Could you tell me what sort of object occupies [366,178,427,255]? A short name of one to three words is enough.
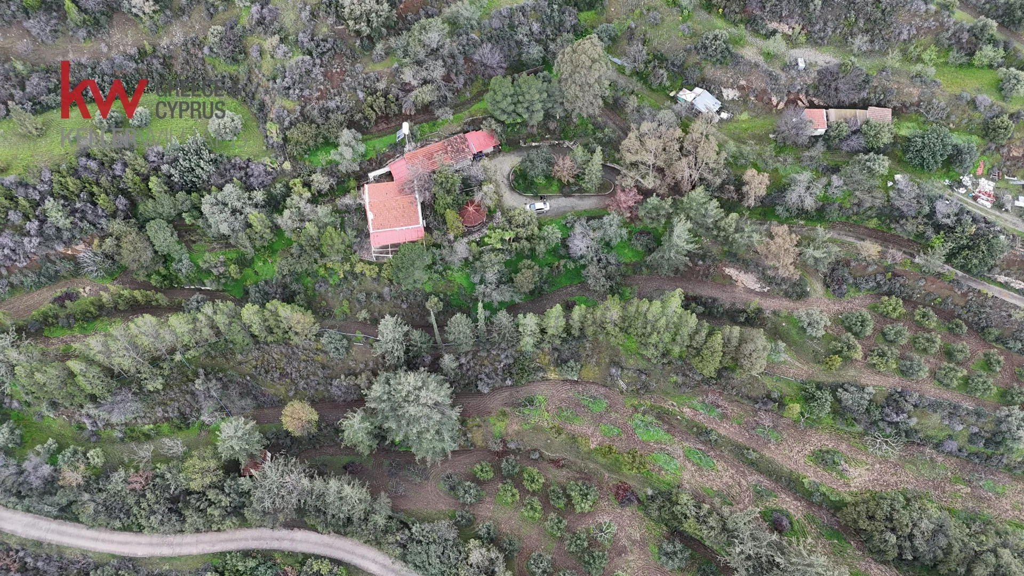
house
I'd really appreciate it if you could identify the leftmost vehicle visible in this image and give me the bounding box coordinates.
[527,199,550,211]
